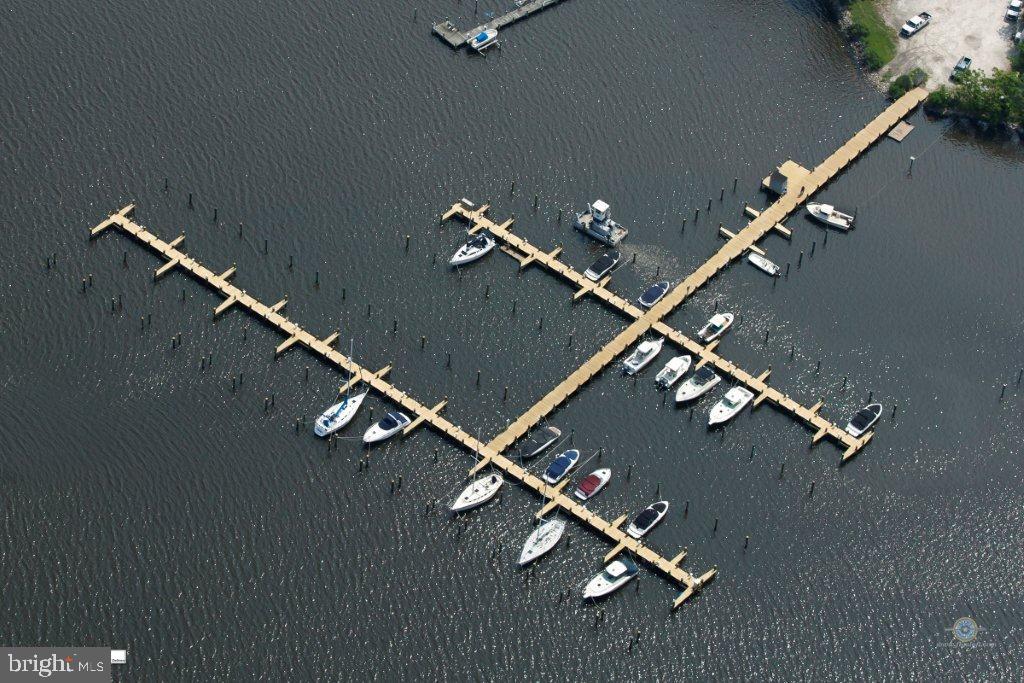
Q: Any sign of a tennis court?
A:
No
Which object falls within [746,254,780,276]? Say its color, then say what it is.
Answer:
white boat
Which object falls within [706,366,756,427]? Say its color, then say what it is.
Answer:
white boat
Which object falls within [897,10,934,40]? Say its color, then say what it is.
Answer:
white truck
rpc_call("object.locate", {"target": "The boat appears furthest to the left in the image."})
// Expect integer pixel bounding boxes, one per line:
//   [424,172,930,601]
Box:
[316,343,371,436]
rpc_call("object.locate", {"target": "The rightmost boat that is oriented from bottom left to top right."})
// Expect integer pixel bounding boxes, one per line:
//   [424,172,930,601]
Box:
[844,405,883,441]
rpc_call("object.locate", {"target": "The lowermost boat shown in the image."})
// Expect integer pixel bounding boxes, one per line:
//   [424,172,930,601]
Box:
[579,555,641,601]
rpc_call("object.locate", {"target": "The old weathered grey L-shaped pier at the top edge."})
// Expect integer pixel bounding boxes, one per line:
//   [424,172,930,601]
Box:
[429,0,562,56]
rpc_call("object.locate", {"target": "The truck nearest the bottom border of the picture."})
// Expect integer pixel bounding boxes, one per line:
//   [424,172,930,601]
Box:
[946,54,975,82]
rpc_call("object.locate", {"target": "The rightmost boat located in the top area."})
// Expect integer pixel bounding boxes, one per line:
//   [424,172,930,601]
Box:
[805,202,857,232]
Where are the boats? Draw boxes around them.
[625,502,670,542]
[573,469,612,505]
[696,312,734,345]
[584,254,622,284]
[452,430,505,513]
[316,343,371,436]
[638,282,670,310]
[518,480,566,566]
[746,254,780,276]
[517,0,532,7]
[623,335,667,376]
[675,365,723,405]
[805,202,857,232]
[517,428,562,460]
[844,405,883,441]
[542,450,581,488]
[450,214,496,267]
[363,411,412,445]
[706,366,756,427]
[573,203,630,248]
[656,354,693,391]
[579,555,641,601]
[468,30,499,53]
